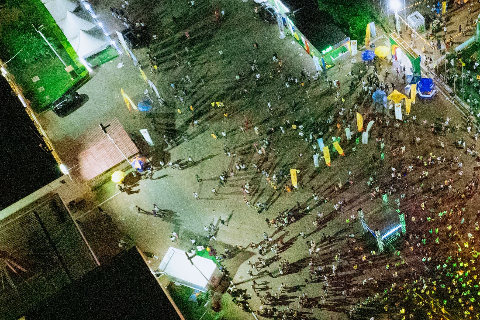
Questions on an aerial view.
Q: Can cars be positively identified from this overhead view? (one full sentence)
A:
Yes, a car can be made out from above.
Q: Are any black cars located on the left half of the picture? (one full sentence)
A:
Yes, a black car appears on the left half of the picture.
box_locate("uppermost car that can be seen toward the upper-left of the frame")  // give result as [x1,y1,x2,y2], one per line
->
[120,25,138,50]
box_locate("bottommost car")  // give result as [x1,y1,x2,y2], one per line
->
[50,90,82,111]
